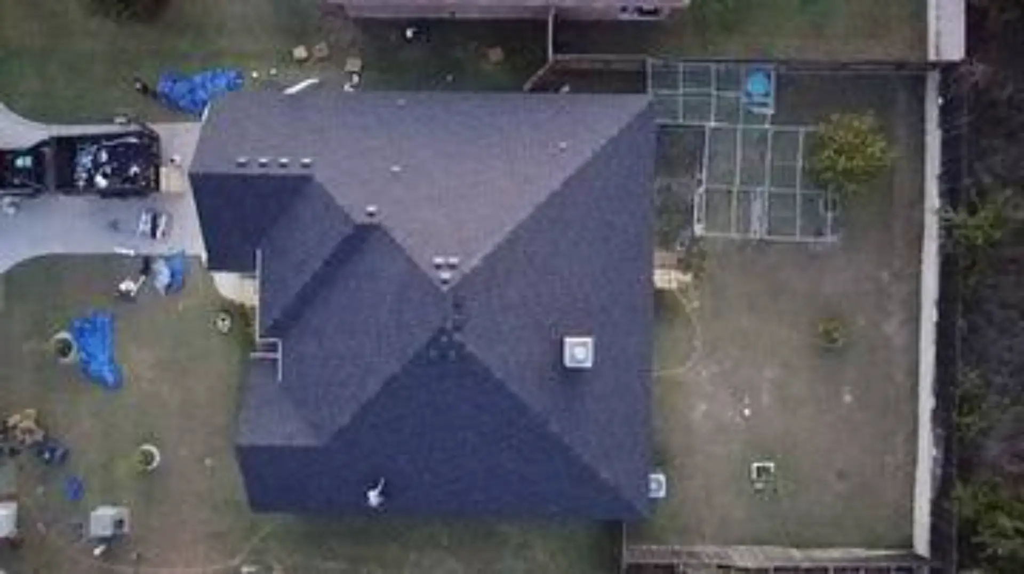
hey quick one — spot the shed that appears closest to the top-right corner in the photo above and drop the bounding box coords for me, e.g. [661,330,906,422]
[921,0,967,68]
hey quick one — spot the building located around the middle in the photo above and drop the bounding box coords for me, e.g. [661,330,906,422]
[189,88,654,520]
